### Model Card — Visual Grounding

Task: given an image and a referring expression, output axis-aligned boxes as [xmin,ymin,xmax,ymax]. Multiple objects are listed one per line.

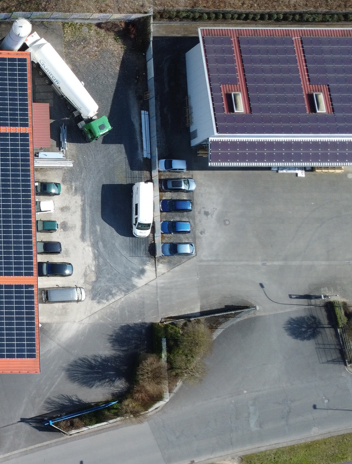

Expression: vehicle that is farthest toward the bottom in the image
[41,286,85,303]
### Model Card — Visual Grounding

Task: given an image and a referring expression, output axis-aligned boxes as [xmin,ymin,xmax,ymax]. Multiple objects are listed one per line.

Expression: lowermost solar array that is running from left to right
[212,142,352,161]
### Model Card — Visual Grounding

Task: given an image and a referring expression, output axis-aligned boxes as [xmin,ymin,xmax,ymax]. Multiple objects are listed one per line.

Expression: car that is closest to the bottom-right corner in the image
[162,242,197,256]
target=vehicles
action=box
[161,219,191,235]
[157,158,188,173]
[41,286,85,303]
[35,219,61,234]
[162,242,197,256]
[34,181,61,196]
[160,198,192,213]
[34,199,54,213]
[36,261,75,277]
[158,176,196,193]
[131,183,154,237]
[36,239,63,255]
[70,111,111,142]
